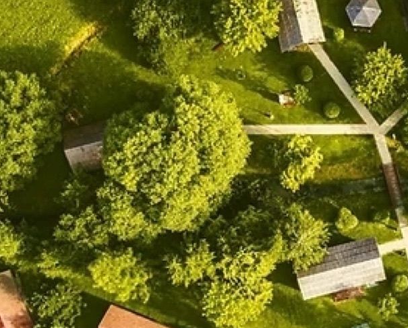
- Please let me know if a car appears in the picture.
No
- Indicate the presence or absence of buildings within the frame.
Yes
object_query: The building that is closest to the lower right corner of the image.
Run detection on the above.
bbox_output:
[294,237,386,300]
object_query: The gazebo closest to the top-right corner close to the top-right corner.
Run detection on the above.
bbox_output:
[346,0,382,33]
